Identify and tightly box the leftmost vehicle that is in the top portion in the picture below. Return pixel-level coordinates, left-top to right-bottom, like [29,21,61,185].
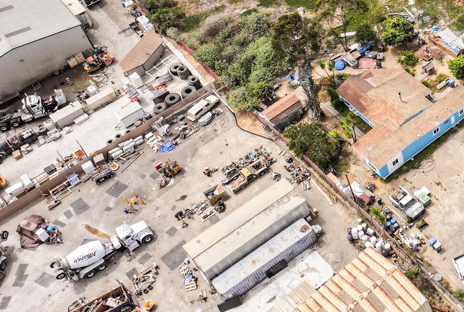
[2,88,65,136]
